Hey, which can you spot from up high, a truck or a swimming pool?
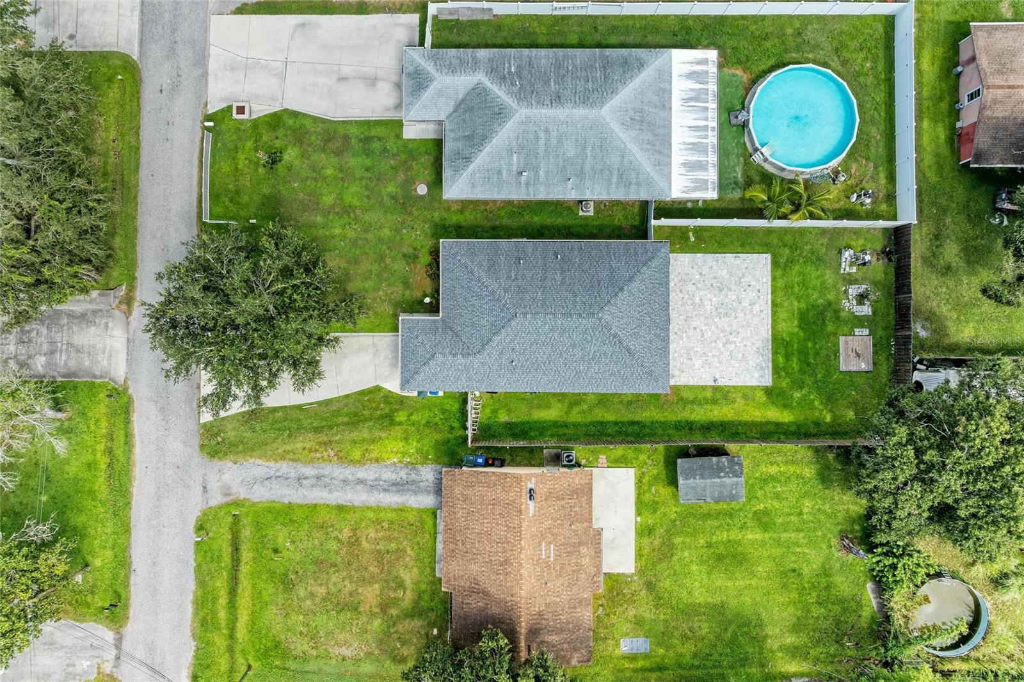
swimming pool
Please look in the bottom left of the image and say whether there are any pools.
No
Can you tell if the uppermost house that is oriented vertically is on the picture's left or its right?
right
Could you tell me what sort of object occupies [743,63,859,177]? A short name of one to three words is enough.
swimming pool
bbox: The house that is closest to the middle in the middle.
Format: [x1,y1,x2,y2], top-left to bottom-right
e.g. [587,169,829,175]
[397,239,672,394]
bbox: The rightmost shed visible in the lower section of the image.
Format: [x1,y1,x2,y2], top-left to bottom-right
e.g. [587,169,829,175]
[674,453,746,503]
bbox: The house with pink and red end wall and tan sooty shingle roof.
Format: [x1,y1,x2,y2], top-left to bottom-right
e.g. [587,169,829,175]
[958,22,1024,168]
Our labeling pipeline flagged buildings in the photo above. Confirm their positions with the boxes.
[401,47,718,206]
[674,453,746,503]
[397,239,672,394]
[442,467,605,675]
[958,22,1024,168]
